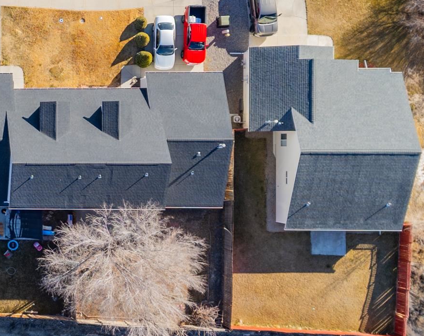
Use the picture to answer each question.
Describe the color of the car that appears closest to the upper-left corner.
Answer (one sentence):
The color of the car that appears closest to the upper-left corner is white.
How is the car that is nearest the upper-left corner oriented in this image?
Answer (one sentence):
The car that is nearest the upper-left corner has been laid out up and down relative to the frame.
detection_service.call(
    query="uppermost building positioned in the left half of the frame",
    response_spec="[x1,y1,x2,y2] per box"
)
[0,71,235,210]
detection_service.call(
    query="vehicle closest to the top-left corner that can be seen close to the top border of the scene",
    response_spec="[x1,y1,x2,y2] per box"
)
[151,16,177,69]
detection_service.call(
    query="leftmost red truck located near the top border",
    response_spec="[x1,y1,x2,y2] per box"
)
[180,5,207,64]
